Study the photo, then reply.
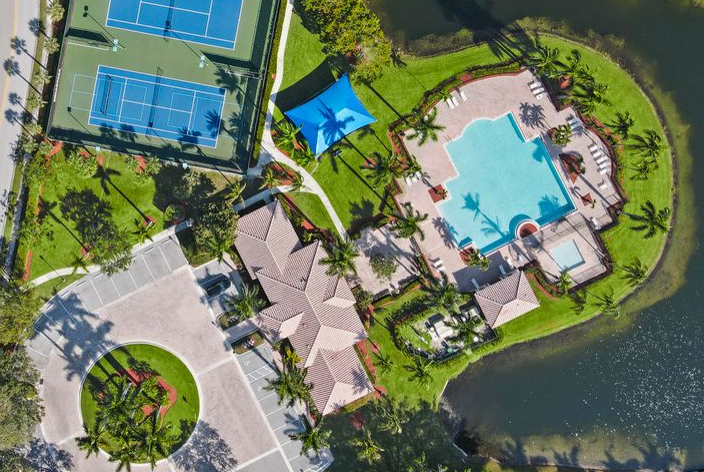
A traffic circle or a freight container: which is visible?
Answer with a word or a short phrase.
traffic circle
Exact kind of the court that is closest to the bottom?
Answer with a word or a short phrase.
tennis court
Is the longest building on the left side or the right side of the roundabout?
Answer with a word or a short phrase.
right of it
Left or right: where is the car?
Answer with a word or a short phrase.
left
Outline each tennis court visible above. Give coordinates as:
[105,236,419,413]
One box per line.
[53,40,264,172]
[69,0,278,75]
